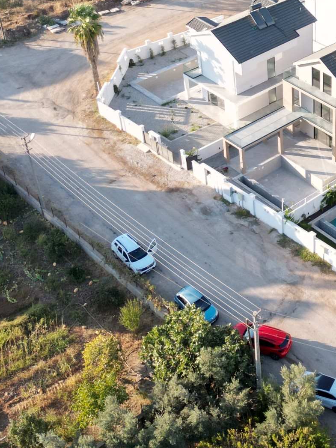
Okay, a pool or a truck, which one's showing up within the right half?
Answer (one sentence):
It is a pool that can be seen within the right half.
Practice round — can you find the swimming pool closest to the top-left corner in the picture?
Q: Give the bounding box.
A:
[127,53,199,104]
